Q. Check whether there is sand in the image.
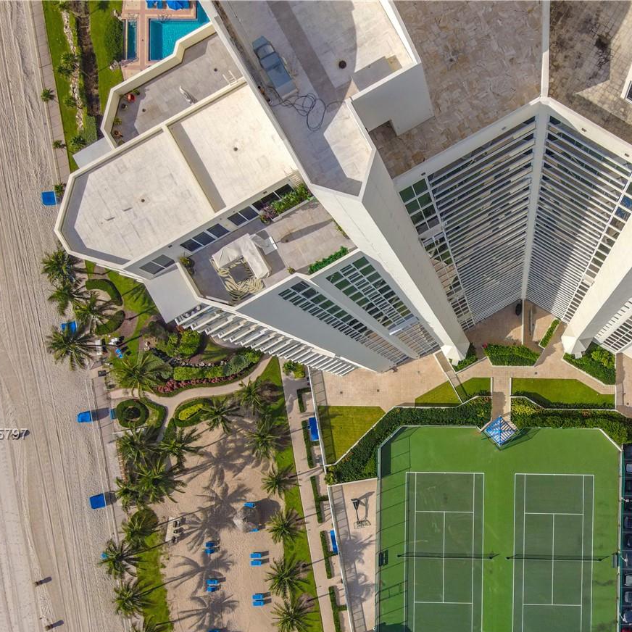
Yes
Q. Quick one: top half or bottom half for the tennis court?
bottom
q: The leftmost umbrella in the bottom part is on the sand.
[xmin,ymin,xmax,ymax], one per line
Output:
[234,504,258,529]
